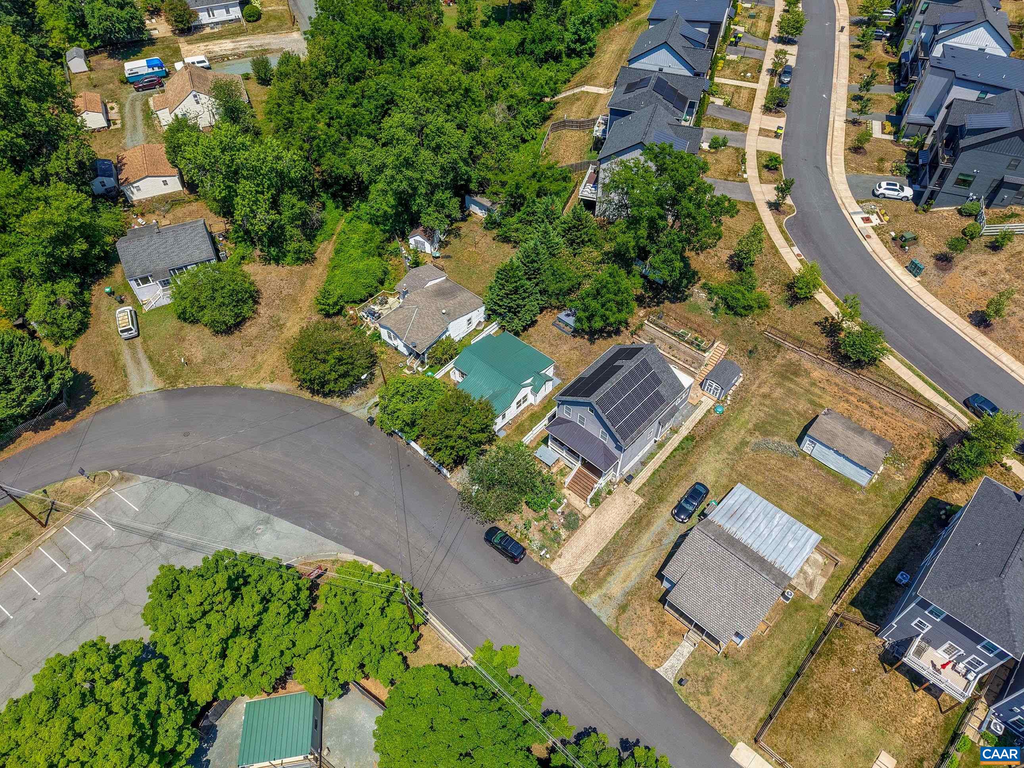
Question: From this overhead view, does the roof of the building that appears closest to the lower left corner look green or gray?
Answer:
green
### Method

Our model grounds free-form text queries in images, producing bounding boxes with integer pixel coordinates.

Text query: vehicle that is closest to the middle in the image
[479,524,529,565]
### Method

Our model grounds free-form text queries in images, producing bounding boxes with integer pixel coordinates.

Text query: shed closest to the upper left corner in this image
[67,48,90,74]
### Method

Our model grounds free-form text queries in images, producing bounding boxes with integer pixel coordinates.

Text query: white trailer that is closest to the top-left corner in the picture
[124,57,169,80]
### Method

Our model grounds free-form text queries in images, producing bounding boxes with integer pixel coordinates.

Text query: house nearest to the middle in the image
[453,331,555,429]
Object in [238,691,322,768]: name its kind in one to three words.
building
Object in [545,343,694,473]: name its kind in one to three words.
house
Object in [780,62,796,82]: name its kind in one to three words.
car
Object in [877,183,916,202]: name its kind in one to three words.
car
